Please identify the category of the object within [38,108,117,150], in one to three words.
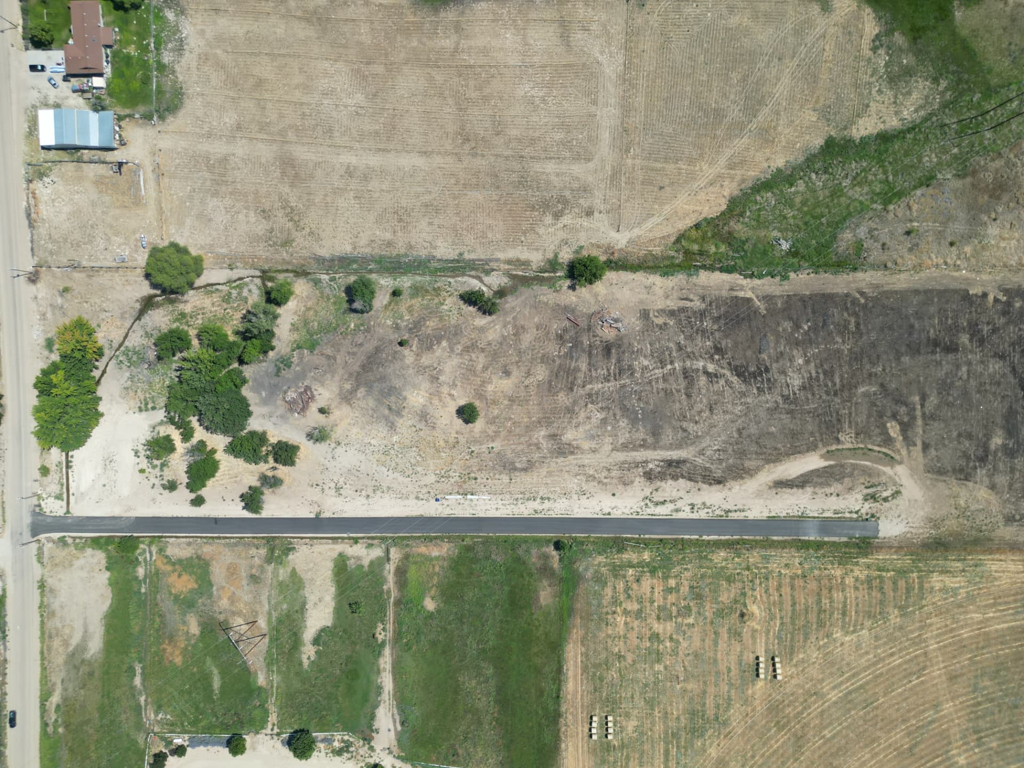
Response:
barn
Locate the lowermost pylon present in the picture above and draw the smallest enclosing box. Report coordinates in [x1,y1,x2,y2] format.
[232,620,267,663]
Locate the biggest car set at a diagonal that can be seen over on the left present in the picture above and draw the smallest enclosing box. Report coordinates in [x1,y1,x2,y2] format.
[47,75,61,90]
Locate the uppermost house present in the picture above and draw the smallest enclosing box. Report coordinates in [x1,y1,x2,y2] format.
[64,1,117,77]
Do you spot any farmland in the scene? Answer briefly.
Yes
